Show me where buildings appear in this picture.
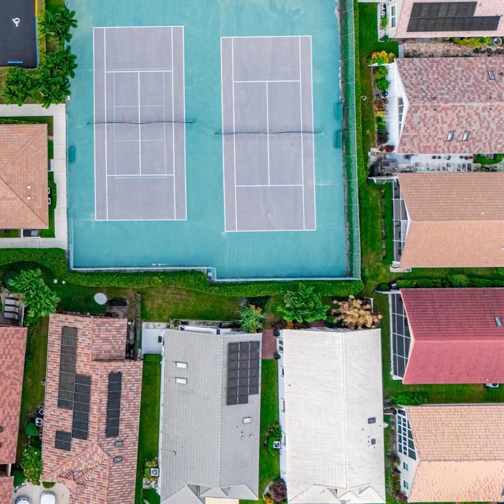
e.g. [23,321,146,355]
[41,314,144,504]
[392,173,504,268]
[0,326,27,504]
[394,57,504,153]
[394,288,504,385]
[389,0,504,38]
[400,403,504,504]
[282,328,387,504]
[159,329,262,504]
[0,124,48,229]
